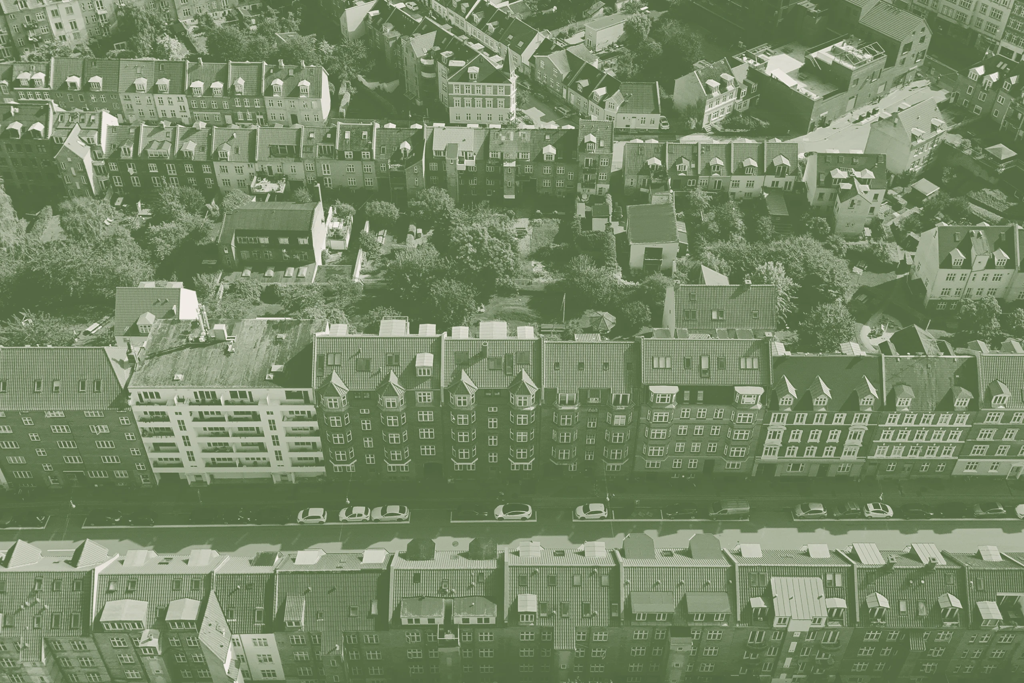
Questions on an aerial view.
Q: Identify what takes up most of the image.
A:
buildings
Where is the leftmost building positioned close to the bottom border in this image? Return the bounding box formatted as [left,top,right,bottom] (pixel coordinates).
[0,537,117,683]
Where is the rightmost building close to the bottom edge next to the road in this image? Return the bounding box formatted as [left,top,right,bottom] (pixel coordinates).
[945,541,1024,683]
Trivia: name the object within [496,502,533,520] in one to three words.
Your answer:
car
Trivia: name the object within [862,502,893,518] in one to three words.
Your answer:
car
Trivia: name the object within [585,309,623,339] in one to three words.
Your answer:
gazebo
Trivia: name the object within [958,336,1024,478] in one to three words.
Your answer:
building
